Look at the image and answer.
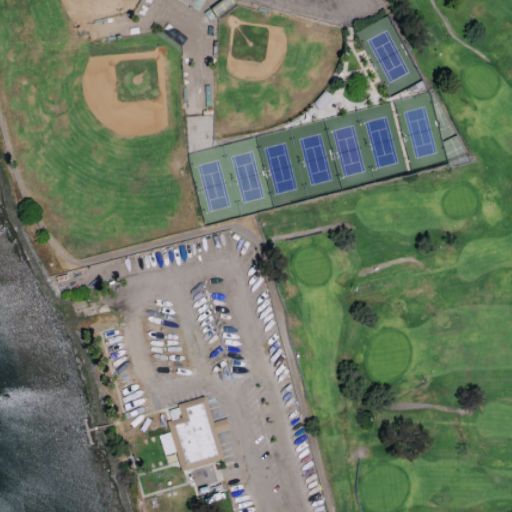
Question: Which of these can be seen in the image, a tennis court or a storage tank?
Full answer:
I can see a tennis court in this picture.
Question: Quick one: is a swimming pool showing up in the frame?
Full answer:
No, the scene contains no swimming pool.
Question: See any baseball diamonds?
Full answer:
Yes, looking at the shot, I can spot a baseball diamond.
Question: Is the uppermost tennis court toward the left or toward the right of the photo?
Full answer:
You can find the uppermost tennis court on the right side of the picture.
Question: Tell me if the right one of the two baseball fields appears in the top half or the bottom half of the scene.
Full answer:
The top half of the photo is where the right one of the two baseball fields is.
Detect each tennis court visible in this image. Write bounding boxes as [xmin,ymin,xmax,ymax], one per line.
[325,108,375,188]
[291,118,341,196]
[360,102,408,180]
[356,16,421,97]
[256,126,307,206]
[432,92,468,163]
[189,144,240,224]
[396,92,448,170]
[223,135,274,214]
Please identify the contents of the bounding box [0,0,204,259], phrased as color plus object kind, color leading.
green baseball field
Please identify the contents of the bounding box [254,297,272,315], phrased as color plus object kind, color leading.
white boat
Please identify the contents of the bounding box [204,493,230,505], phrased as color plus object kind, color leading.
white boat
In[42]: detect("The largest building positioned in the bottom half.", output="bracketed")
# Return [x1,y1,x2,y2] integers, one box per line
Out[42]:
[168,396,230,470]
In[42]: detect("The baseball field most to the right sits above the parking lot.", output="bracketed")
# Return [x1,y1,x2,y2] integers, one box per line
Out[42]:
[214,7,342,140]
